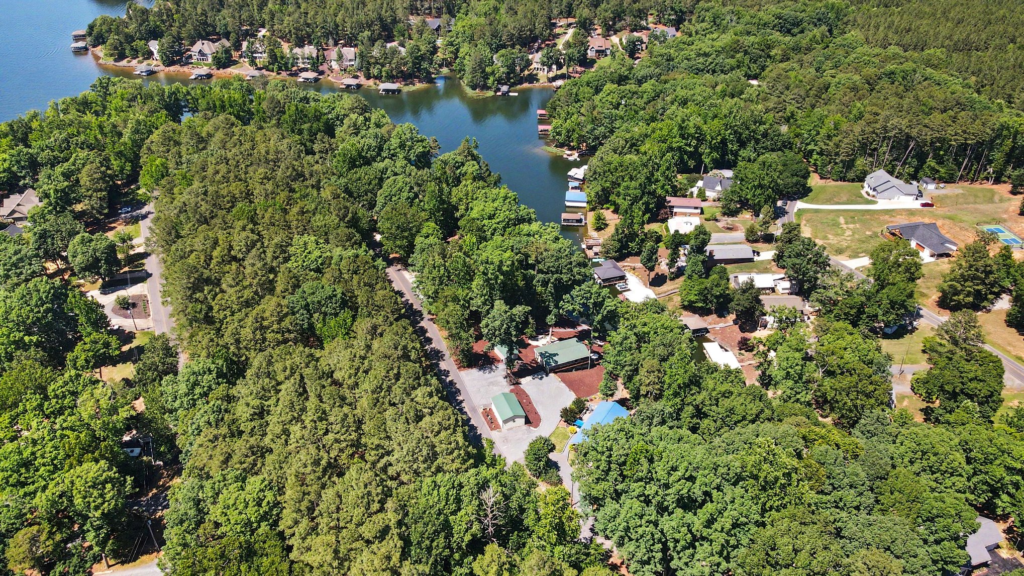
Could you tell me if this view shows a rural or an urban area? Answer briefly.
rural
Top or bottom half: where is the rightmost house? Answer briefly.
bottom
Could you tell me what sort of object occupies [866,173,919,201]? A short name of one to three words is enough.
house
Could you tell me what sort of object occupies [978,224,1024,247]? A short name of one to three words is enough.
sports court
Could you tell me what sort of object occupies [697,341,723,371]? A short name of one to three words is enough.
building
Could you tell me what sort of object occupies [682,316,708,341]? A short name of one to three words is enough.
building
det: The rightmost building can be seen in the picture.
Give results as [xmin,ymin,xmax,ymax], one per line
[945,519,1004,575]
